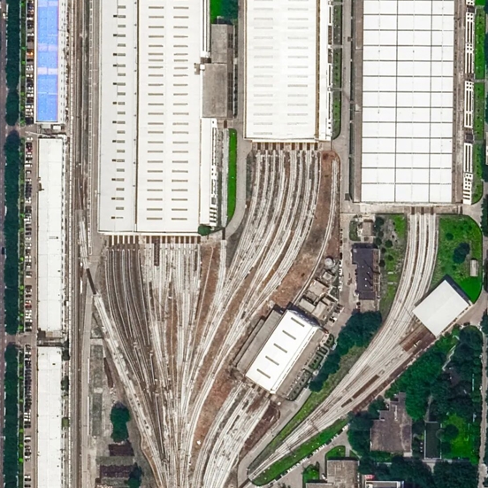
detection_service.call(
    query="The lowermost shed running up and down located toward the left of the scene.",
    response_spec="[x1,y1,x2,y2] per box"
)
[37,346,65,488]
